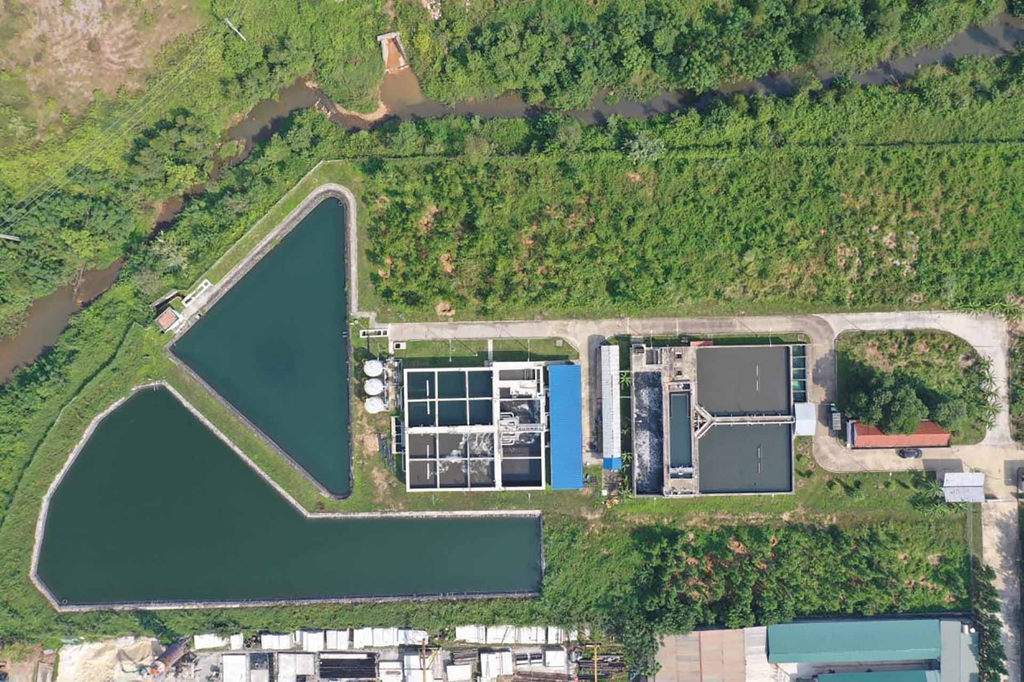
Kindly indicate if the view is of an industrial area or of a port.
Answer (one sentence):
The picture captures an industrial area.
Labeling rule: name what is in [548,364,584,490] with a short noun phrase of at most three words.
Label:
shed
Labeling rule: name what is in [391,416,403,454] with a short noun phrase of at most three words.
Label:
water tank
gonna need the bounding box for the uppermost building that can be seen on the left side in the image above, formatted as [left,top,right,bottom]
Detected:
[155,307,187,331]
